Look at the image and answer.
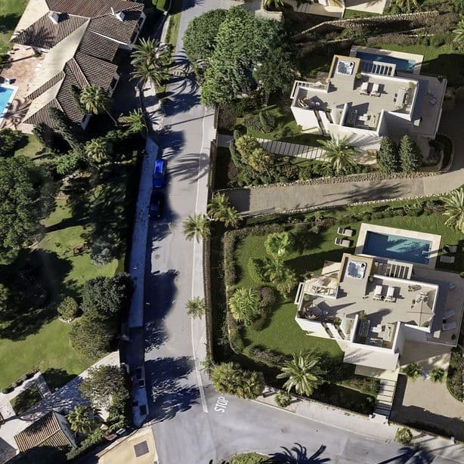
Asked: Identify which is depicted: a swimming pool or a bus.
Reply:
swimming pool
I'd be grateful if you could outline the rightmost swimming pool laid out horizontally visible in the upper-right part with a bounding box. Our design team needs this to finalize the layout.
[348,45,424,78]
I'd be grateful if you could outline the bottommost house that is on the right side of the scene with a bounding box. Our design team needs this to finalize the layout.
[292,251,464,398]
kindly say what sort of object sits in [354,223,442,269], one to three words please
swimming pool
